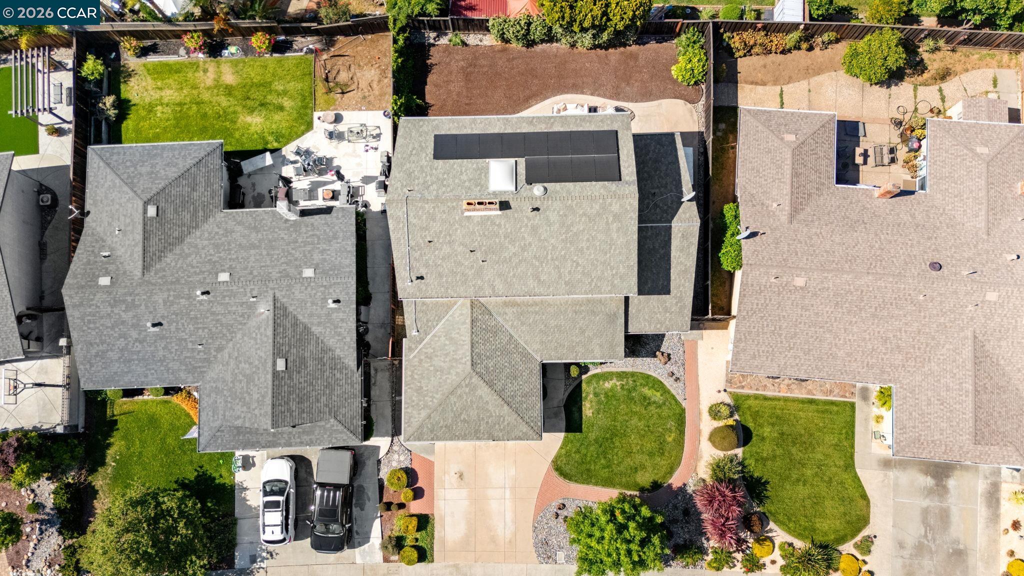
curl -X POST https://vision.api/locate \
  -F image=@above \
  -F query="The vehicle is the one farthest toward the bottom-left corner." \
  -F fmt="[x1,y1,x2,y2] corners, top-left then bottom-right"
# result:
[256,457,299,547]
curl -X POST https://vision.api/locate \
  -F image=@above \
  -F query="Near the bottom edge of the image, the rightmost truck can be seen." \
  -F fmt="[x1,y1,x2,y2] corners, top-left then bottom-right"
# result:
[308,447,357,555]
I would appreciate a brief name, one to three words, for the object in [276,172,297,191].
umbrella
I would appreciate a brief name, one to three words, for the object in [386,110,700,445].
house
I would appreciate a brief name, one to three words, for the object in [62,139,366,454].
house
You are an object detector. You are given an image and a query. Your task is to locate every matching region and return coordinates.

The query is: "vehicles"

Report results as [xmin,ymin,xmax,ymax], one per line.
[256,457,299,547]
[308,447,357,555]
